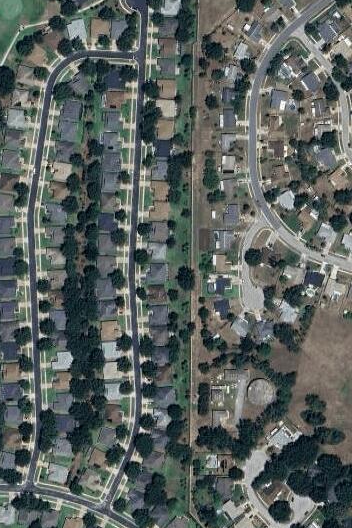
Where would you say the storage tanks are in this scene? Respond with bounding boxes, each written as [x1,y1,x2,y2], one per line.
[247,378,276,406]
